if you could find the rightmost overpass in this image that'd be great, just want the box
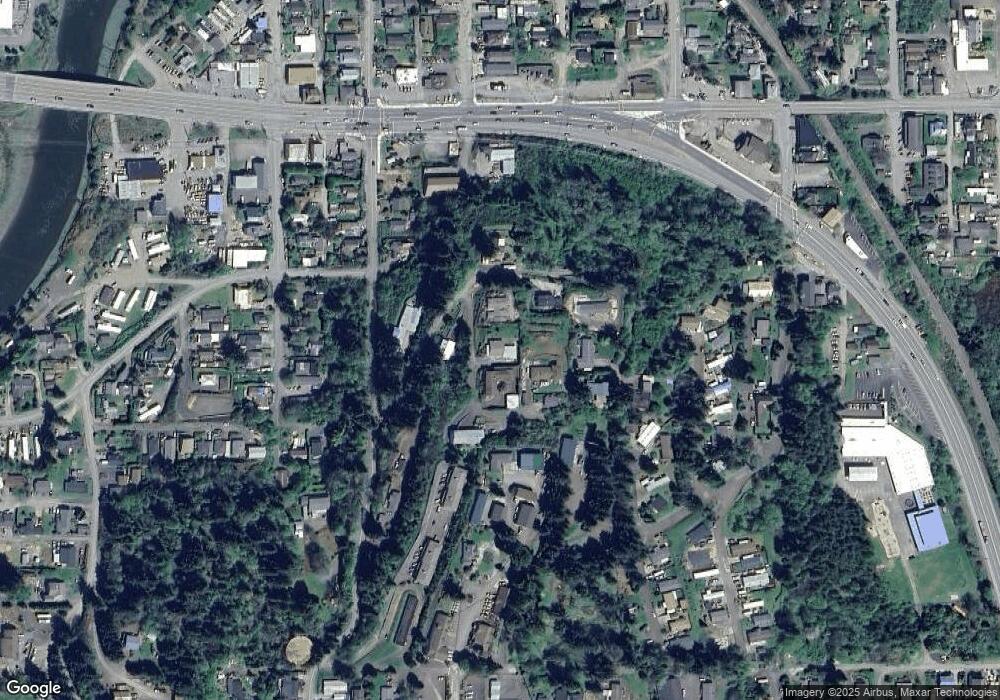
[790,100,838,113]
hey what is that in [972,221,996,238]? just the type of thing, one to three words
house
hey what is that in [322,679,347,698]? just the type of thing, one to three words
house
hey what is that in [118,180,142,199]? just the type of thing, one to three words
building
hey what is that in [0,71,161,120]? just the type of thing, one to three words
bridge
